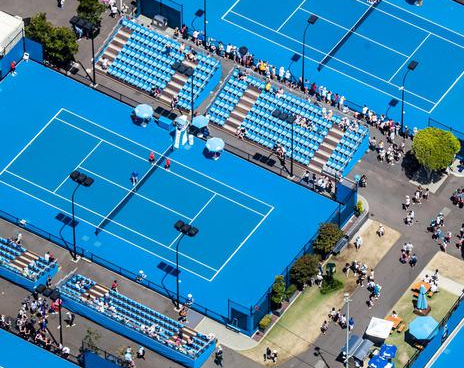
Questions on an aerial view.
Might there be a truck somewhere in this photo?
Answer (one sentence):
No, there appears to be no truck in this shot.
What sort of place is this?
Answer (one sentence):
The picture captures a sports ground.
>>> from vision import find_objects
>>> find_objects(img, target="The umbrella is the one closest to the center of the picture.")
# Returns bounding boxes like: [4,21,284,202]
[204,138,227,164]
